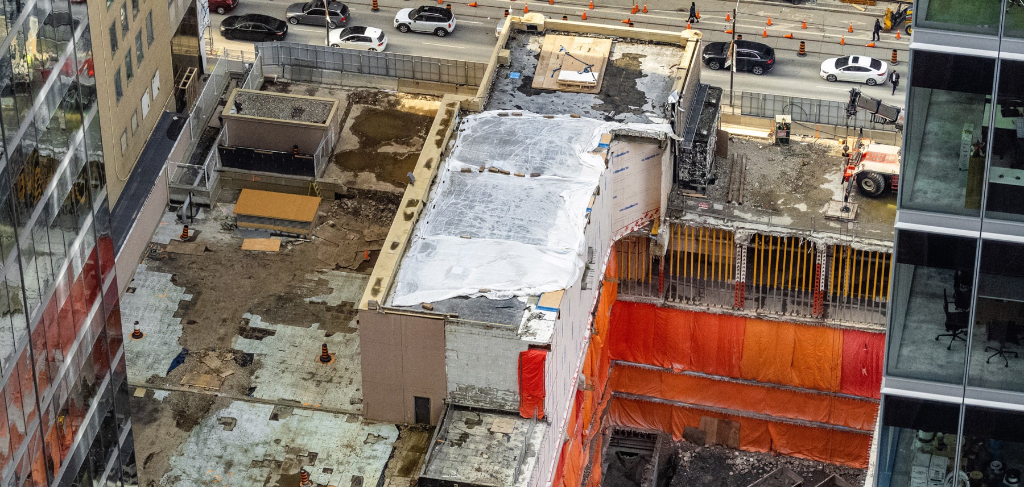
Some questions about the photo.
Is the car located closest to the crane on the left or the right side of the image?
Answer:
right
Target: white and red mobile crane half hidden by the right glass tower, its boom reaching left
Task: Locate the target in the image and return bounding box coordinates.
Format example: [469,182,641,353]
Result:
[841,73,917,212]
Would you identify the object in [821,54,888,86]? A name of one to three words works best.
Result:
car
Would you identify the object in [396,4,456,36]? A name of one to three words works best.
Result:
car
